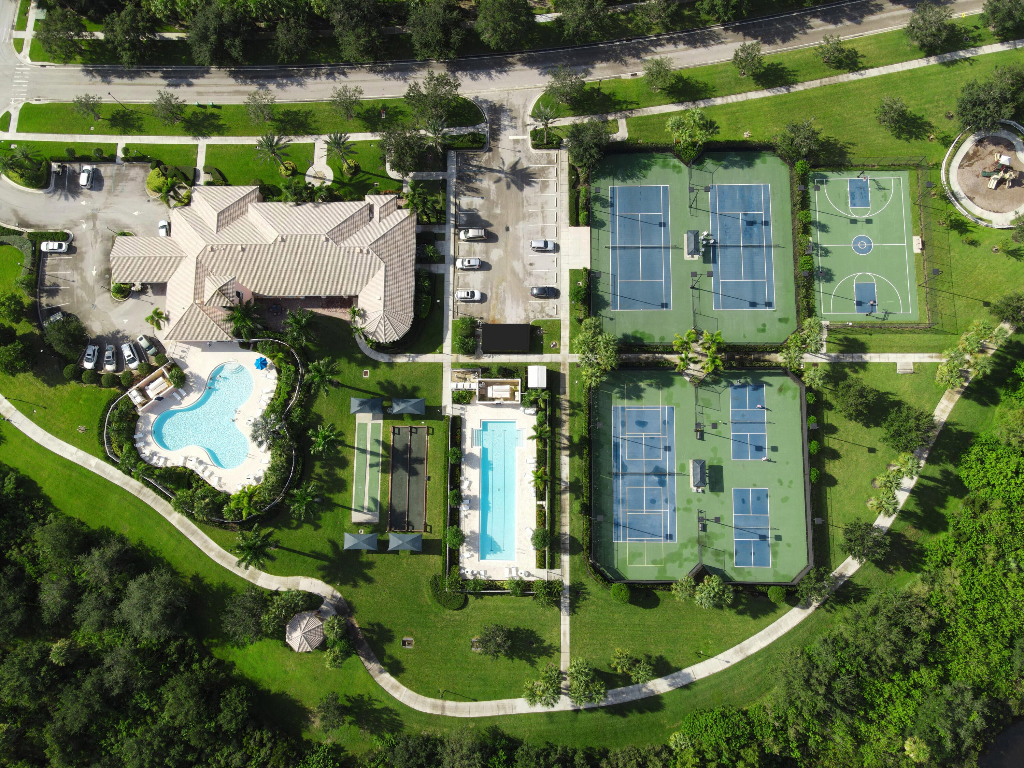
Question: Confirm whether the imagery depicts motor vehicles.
Yes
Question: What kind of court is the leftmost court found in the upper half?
tennis court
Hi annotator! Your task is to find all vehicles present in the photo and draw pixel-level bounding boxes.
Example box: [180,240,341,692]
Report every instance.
[158,217,171,236]
[460,229,487,242]
[455,289,481,302]
[104,345,119,371]
[130,283,144,295]
[43,242,68,253]
[122,342,140,370]
[456,258,481,270]
[80,167,95,188]
[531,287,557,299]
[136,332,159,357]
[530,240,555,252]
[44,308,69,326]
[84,345,101,370]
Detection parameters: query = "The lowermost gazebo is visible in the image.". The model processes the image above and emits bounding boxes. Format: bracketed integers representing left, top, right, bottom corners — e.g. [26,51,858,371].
[286,612,327,653]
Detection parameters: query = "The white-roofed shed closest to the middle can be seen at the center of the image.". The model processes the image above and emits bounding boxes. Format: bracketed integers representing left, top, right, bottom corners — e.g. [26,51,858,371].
[528,365,546,389]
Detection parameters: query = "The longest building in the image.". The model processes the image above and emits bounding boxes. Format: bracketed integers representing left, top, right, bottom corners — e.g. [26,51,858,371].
[110,186,417,342]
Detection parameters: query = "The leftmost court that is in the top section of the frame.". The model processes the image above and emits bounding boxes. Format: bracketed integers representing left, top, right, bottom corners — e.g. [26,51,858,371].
[591,153,696,342]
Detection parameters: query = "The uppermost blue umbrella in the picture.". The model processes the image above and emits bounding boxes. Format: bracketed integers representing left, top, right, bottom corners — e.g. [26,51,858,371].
[254,357,268,371]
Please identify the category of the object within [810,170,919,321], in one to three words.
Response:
basketball court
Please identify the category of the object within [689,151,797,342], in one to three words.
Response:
tennis court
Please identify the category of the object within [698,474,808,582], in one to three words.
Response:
sports court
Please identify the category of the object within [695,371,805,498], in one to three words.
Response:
sports court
